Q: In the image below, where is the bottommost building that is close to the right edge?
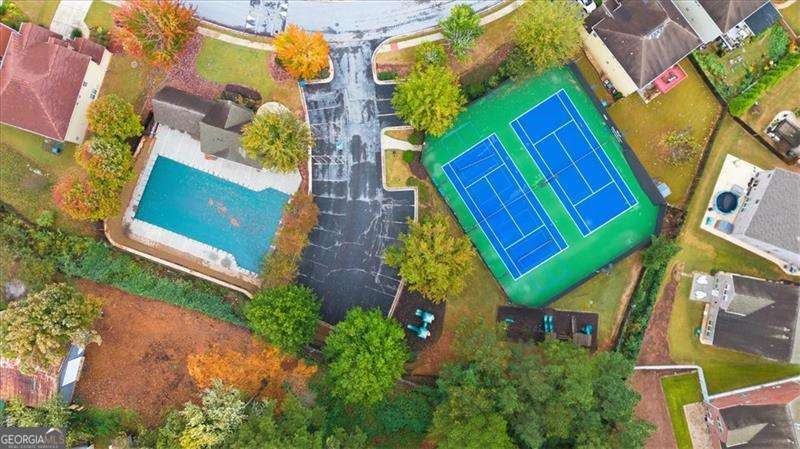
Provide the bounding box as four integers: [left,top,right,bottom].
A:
[703,395,796,449]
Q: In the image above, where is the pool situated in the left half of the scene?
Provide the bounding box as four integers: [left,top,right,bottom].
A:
[132,155,293,277]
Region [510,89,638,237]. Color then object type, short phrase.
blue tennis court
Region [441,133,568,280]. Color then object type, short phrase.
blue tennis court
